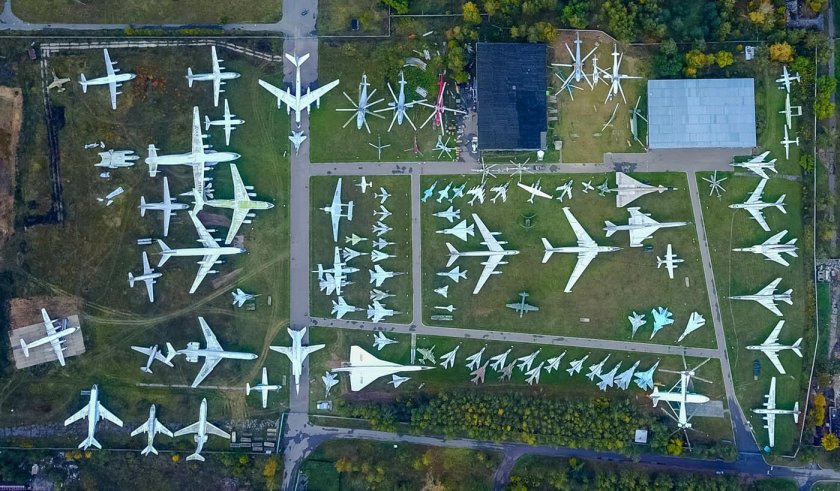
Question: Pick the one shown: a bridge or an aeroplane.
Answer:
aeroplane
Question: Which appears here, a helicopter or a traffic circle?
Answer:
helicopter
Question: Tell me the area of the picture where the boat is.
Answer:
center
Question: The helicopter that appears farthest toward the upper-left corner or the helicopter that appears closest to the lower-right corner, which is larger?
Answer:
the helicopter that appears closest to the lower-right corner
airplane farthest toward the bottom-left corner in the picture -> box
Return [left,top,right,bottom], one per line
[62,384,121,452]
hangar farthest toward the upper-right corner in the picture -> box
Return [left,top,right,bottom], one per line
[645,78,756,149]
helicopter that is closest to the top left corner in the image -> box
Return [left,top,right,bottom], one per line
[336,71,385,134]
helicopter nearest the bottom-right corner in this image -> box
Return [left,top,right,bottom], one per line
[651,352,712,449]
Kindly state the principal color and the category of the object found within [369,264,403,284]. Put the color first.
white airplane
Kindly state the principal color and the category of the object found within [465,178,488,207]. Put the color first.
white airplane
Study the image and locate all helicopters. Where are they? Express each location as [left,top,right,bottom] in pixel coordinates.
[504,158,534,182]
[628,97,647,151]
[551,32,598,90]
[472,158,504,183]
[432,135,457,158]
[336,71,385,134]
[651,352,712,449]
[582,54,610,85]
[369,136,390,159]
[374,73,427,132]
[413,75,467,134]
[596,42,642,104]
[404,137,423,157]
